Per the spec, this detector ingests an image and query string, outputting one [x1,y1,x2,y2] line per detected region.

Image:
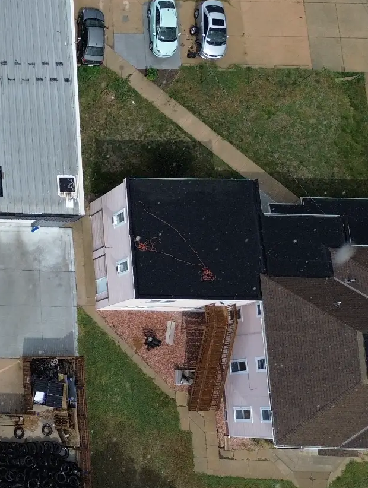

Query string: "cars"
[77,8,112,66]
[146,0,183,61]
[197,0,233,62]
